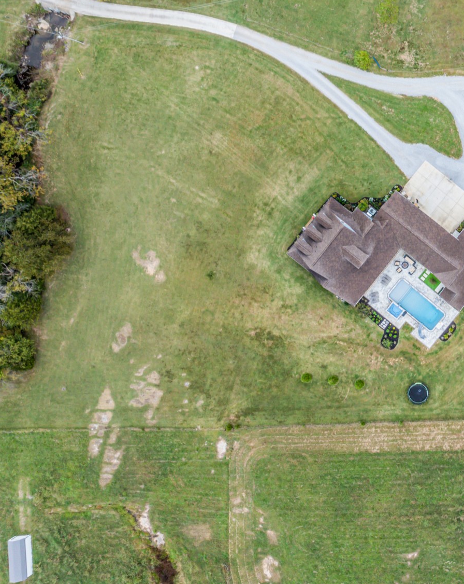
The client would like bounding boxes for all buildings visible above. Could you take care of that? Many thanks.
[8,535,33,583]
[287,191,464,311]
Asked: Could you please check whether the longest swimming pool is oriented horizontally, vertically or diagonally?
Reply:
diagonally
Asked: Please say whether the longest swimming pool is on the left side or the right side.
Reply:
right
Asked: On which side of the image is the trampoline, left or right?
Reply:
right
